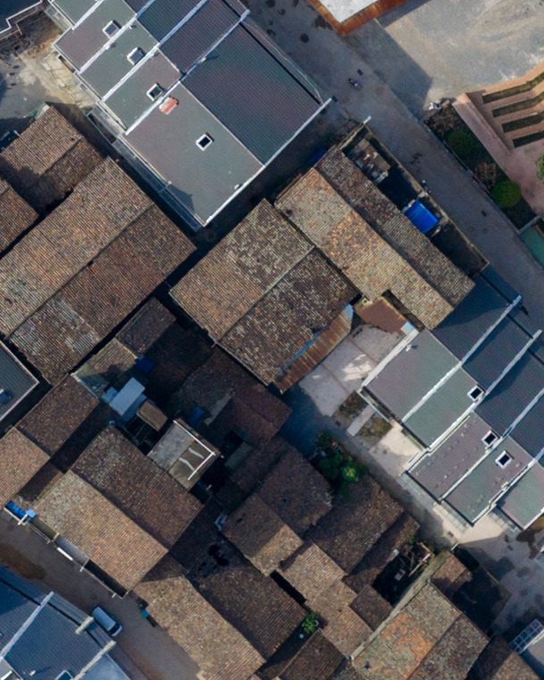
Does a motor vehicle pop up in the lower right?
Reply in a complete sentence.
No, the scene shows no motor vehicle in the lower right.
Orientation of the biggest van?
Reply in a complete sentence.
The biggest van is oriented diagonally.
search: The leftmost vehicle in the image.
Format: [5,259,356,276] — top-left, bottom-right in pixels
[90,603,123,638]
